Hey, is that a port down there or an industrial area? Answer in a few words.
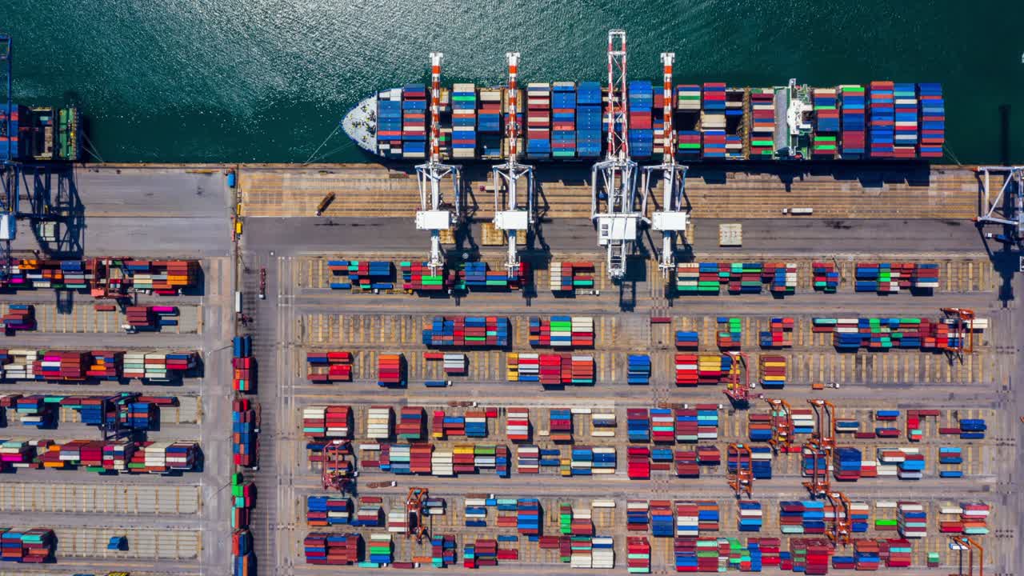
port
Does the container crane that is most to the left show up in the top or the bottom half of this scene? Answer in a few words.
top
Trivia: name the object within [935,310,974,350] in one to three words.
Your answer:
container crane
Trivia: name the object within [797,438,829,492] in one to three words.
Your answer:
container crane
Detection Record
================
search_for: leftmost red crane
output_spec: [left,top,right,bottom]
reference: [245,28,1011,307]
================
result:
[86,258,134,298]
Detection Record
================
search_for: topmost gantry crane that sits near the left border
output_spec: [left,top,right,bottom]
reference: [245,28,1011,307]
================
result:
[0,34,77,275]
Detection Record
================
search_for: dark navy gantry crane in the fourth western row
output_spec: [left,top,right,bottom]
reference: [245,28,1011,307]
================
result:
[104,388,144,439]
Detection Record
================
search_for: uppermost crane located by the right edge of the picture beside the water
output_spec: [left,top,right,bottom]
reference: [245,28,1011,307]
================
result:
[968,163,1024,219]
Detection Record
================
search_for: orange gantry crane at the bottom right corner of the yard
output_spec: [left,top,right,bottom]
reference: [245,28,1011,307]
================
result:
[945,529,984,576]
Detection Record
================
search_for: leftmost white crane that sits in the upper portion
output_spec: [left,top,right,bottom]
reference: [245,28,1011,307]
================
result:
[415,52,467,279]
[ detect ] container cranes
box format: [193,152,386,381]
[86,258,134,298]
[968,163,1024,219]
[945,529,984,576]
[761,398,791,445]
[576,30,642,282]
[935,310,974,350]
[323,436,349,486]
[823,484,850,541]
[804,397,836,448]
[488,52,537,279]
[724,438,753,490]
[797,438,829,492]
[104,388,144,439]
[415,52,467,279]
[628,52,689,279]
[721,351,748,395]
[406,479,428,534]
[0,34,77,275]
